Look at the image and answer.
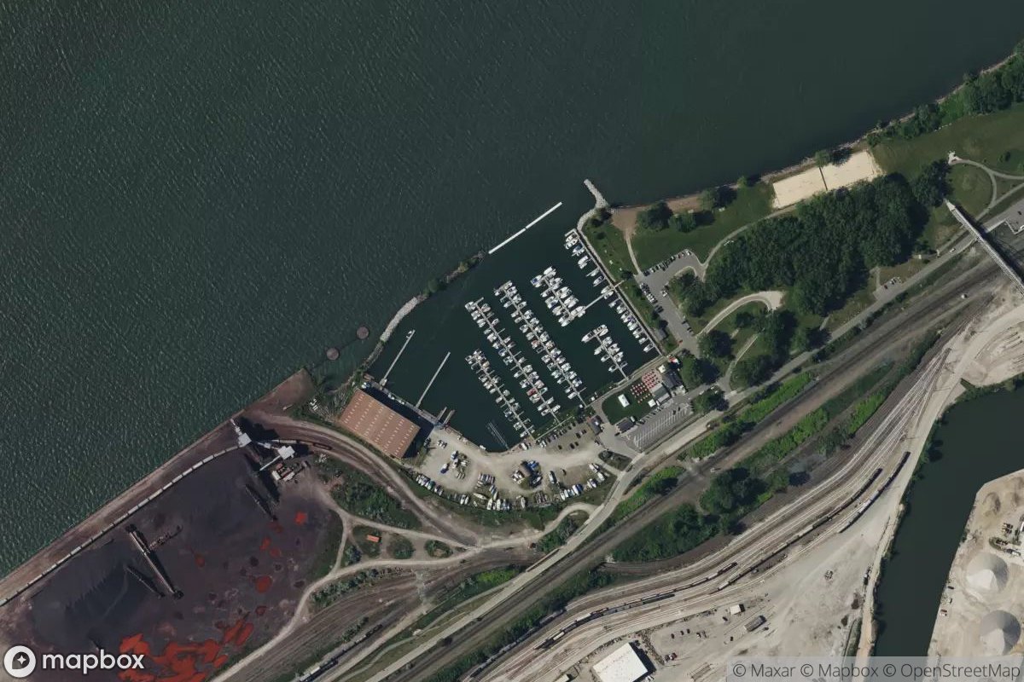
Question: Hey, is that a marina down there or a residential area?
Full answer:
This image shows a marina.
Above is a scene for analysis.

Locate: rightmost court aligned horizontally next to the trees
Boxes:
[822,151,883,189]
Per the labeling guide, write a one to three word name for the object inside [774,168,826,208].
sports court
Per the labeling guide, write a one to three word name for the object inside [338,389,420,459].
building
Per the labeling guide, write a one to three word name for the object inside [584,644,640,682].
building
